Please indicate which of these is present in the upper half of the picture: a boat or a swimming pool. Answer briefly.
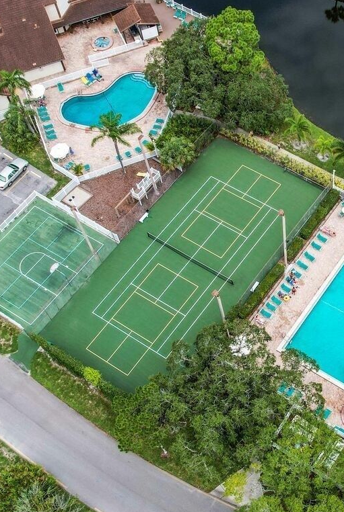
swimming pool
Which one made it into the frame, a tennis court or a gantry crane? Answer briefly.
tennis court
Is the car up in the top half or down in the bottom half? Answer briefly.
top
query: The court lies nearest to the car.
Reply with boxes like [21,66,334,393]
[0,195,118,334]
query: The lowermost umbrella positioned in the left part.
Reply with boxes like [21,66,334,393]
[49,143,71,164]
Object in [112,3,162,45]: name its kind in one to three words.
shed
